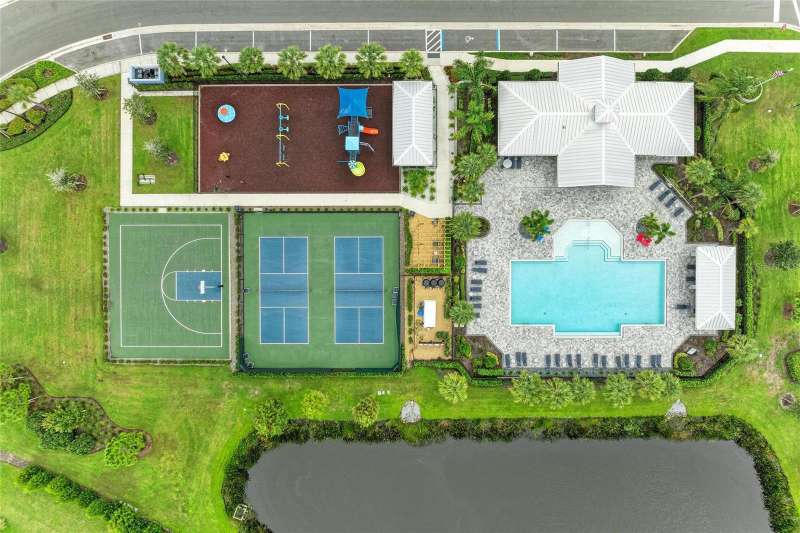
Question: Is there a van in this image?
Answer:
No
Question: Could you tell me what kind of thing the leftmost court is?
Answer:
basketball court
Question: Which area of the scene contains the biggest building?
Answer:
top right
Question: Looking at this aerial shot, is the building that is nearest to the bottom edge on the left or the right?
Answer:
right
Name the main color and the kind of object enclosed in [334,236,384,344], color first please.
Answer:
blue sports court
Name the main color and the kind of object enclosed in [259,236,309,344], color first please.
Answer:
blue sports court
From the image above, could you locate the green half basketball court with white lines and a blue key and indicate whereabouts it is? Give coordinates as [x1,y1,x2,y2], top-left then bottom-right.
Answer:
[108,212,229,360]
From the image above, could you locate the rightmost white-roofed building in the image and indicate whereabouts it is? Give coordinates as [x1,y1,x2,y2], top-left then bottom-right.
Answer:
[685,245,736,332]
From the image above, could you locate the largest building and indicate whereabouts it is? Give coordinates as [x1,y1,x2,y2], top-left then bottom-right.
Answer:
[497,53,695,188]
